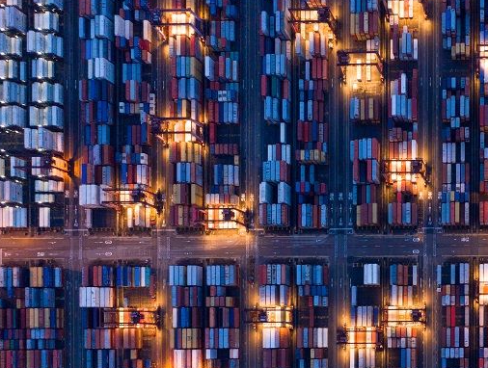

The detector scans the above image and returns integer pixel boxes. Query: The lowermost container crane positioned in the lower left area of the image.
[100,307,163,327]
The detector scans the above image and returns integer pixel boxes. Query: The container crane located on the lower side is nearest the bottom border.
[335,327,382,346]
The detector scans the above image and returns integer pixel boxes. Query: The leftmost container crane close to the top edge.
[148,8,205,41]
